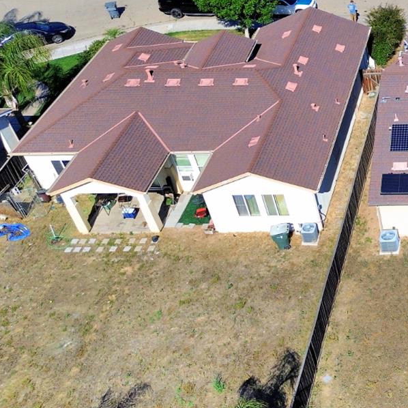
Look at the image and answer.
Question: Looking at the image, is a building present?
Yes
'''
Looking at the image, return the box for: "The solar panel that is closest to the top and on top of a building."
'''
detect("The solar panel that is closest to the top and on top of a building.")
[389,122,408,150]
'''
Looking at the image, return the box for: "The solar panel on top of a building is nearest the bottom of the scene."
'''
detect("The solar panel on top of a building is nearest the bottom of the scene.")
[379,173,408,193]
